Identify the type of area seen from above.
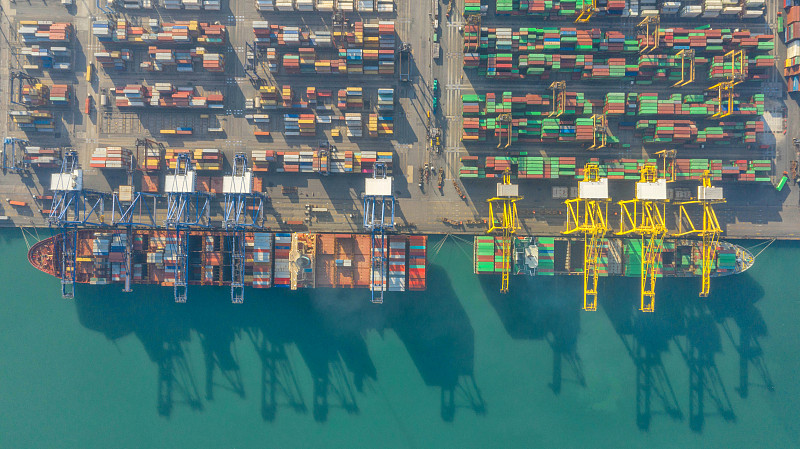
port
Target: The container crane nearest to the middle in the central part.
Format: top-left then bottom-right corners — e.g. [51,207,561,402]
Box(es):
[362,160,399,304]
